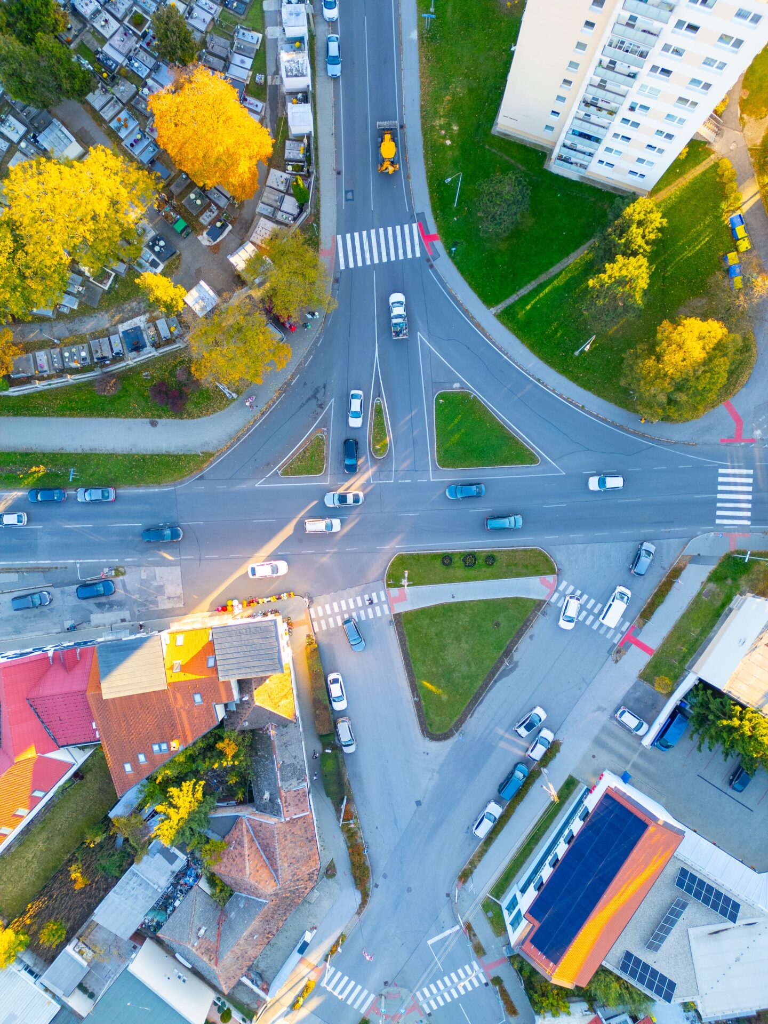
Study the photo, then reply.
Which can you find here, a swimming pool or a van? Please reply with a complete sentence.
Of the two, only a van appears.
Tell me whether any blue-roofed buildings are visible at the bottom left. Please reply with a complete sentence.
Yes, at the bottom left there is a blue-roofed building.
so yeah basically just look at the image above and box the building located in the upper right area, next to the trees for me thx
[488,0,768,204]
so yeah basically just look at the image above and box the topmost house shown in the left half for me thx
[282,3,307,42]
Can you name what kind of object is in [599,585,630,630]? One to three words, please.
van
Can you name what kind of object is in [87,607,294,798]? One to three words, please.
house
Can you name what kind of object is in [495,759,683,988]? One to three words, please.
building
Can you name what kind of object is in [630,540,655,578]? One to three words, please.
car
